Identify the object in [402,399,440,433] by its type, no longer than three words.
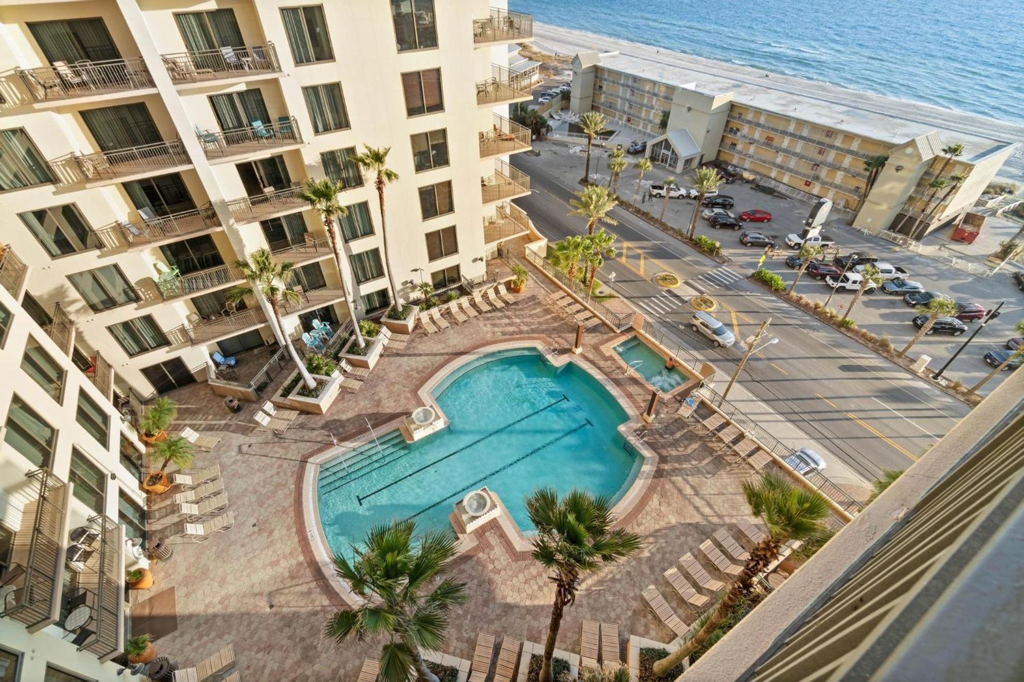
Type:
fountain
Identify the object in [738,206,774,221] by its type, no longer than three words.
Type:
car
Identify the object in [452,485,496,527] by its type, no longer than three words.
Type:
fountain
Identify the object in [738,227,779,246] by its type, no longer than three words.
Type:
car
